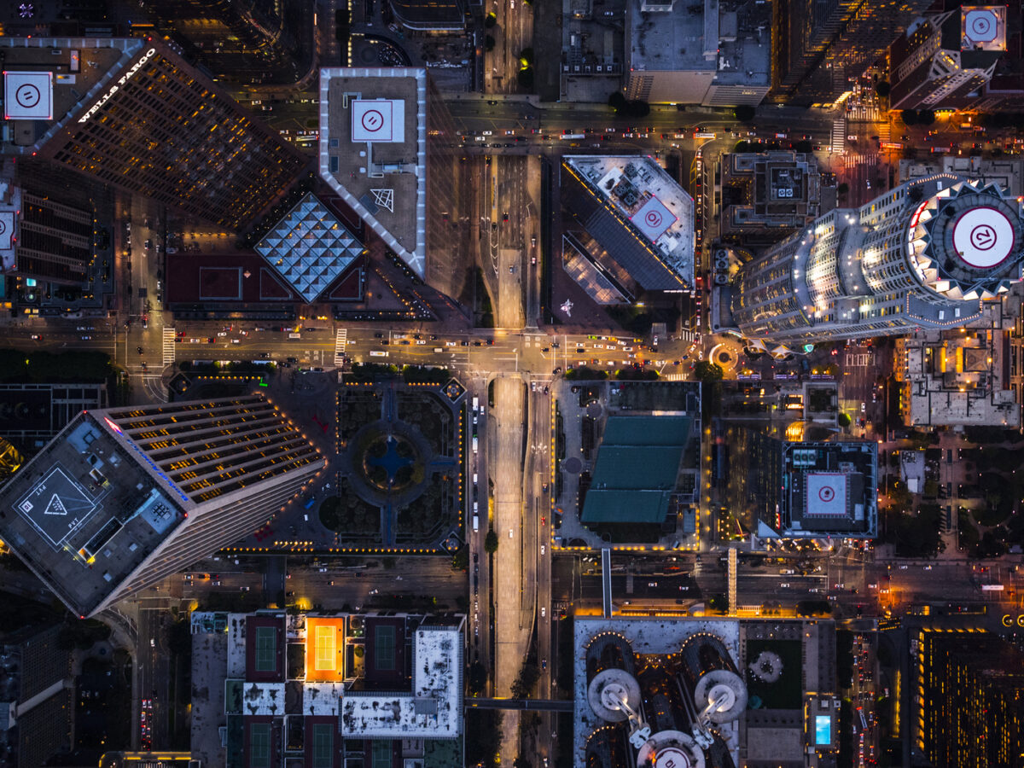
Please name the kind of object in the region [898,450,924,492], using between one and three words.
building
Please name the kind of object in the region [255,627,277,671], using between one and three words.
tennis court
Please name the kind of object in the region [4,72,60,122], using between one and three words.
helipad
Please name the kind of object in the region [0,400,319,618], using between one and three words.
building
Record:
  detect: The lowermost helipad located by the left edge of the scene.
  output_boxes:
[13,461,104,552]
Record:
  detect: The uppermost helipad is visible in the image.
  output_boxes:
[964,10,997,43]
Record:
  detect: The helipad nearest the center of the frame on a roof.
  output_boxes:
[629,196,677,243]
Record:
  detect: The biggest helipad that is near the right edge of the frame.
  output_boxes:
[951,208,1015,270]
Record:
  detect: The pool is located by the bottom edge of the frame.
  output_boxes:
[815,715,830,745]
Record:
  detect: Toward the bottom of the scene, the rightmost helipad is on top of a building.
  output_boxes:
[806,473,847,515]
